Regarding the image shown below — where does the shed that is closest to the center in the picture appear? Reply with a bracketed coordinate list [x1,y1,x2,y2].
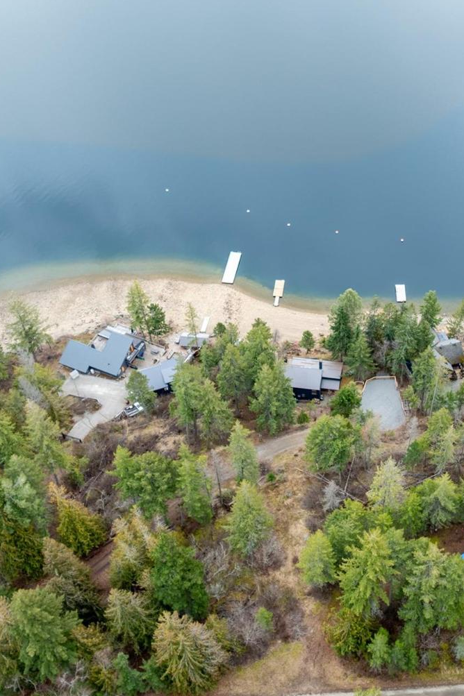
[180,333,209,355]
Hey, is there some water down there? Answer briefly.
Yes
